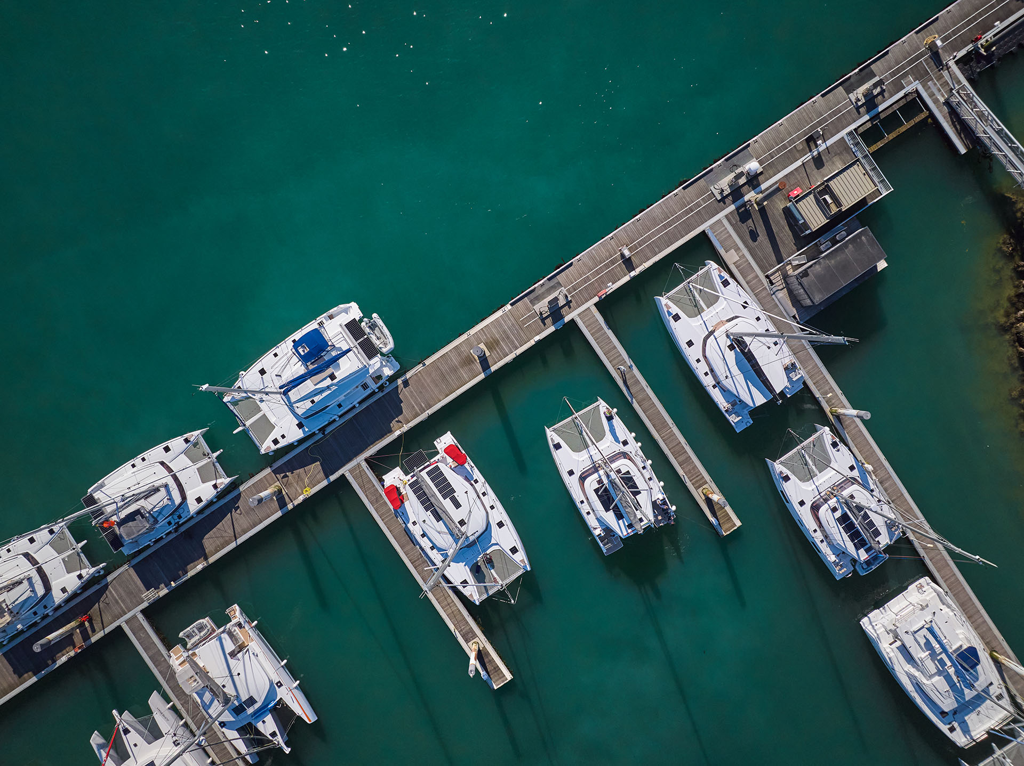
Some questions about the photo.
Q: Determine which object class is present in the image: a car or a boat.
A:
boat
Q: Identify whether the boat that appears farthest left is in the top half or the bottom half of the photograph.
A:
bottom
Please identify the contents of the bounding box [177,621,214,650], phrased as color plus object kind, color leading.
gray boat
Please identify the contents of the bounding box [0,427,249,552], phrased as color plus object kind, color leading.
white boat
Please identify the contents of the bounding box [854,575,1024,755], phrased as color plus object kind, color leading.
white boat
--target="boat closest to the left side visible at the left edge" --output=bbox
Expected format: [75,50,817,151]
[0,514,118,639]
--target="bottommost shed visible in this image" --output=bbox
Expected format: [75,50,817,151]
[764,218,887,324]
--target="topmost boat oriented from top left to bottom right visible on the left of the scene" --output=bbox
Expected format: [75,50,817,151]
[358,312,397,358]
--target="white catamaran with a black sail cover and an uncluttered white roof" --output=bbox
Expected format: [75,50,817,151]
[654,261,856,433]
